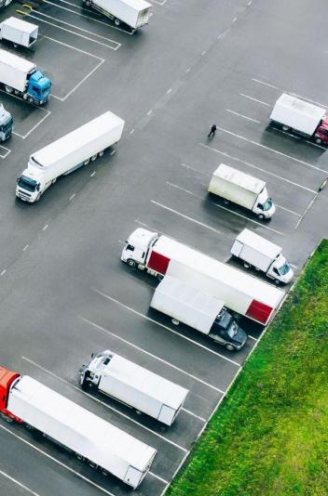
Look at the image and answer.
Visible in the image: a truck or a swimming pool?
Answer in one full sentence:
There is a truck in the scene.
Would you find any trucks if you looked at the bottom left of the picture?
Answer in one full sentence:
Yes, at the bottom left of the picture there is a truck.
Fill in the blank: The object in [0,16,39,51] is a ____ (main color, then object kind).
white van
